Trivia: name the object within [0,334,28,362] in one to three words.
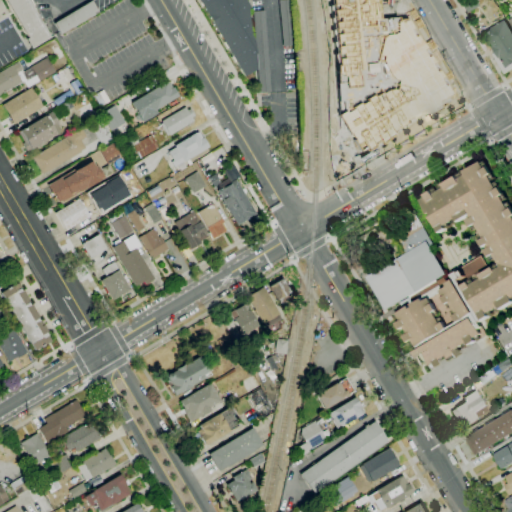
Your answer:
house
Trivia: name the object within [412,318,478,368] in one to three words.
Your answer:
building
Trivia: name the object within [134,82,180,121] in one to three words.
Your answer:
house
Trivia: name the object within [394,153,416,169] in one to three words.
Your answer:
vehicle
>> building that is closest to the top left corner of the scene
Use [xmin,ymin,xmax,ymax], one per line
[6,0,54,50]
